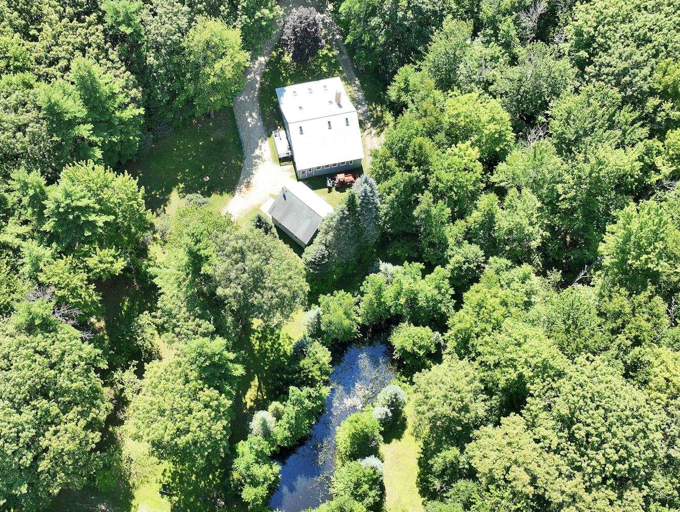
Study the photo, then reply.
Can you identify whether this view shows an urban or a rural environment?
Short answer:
rural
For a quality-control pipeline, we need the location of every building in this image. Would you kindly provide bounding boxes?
[275,76,365,179]
[268,183,335,247]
